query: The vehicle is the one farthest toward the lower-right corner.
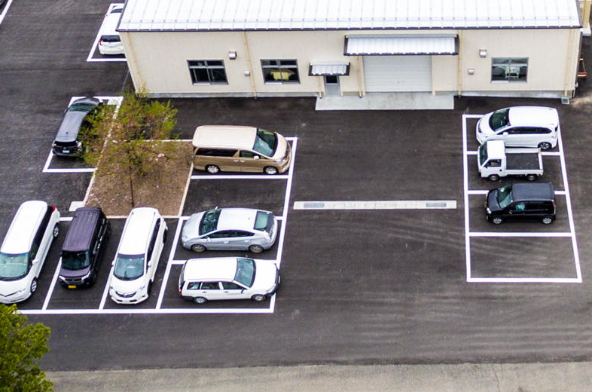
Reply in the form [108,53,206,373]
[484,180,559,225]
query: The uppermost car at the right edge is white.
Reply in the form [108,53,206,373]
[474,106,568,151]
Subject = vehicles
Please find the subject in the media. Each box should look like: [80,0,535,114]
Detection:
[475,138,546,181]
[474,106,568,151]
[49,86,102,151]
[178,205,281,253]
[108,200,168,298]
[0,195,59,298]
[188,125,294,175]
[53,204,109,284]
[173,254,285,304]
[94,0,126,52]
[484,180,559,225]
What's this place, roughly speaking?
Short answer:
parking lot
